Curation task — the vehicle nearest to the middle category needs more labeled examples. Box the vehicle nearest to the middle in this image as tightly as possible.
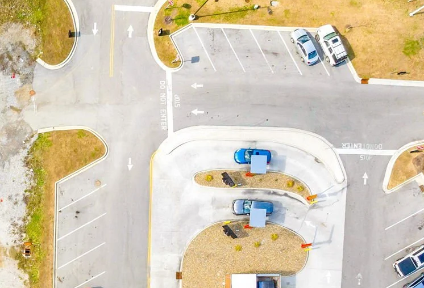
[232,146,272,166]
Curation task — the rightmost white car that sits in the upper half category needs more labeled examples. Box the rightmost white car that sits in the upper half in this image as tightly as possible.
[316,24,349,68]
